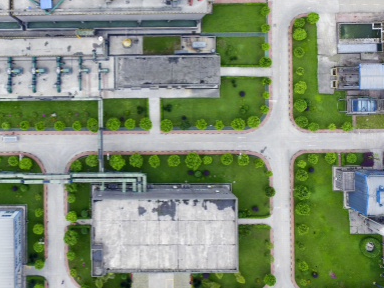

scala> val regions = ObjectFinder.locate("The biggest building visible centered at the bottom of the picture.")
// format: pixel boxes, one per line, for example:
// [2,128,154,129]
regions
[92,191,239,273]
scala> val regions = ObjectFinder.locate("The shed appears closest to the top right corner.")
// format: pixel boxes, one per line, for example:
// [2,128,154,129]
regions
[351,63,384,90]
